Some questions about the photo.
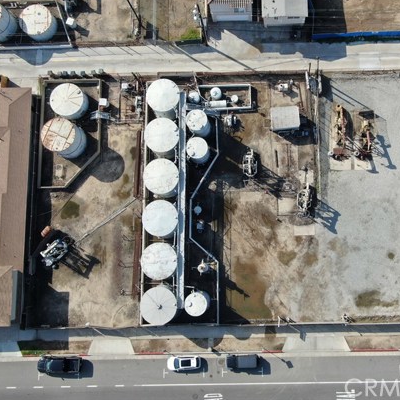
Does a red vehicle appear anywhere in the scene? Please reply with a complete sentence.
No, there isn't any red vehicle down there.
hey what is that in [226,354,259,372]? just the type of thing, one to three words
vehicle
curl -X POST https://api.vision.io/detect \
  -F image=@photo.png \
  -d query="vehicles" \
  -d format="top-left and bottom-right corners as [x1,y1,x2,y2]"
[226,354,259,372]
[37,355,82,374]
[167,355,201,372]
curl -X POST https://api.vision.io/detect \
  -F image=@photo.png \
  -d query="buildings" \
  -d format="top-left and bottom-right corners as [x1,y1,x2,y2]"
[271,106,308,138]
[0,88,32,269]
[262,0,309,34]
[208,0,253,22]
